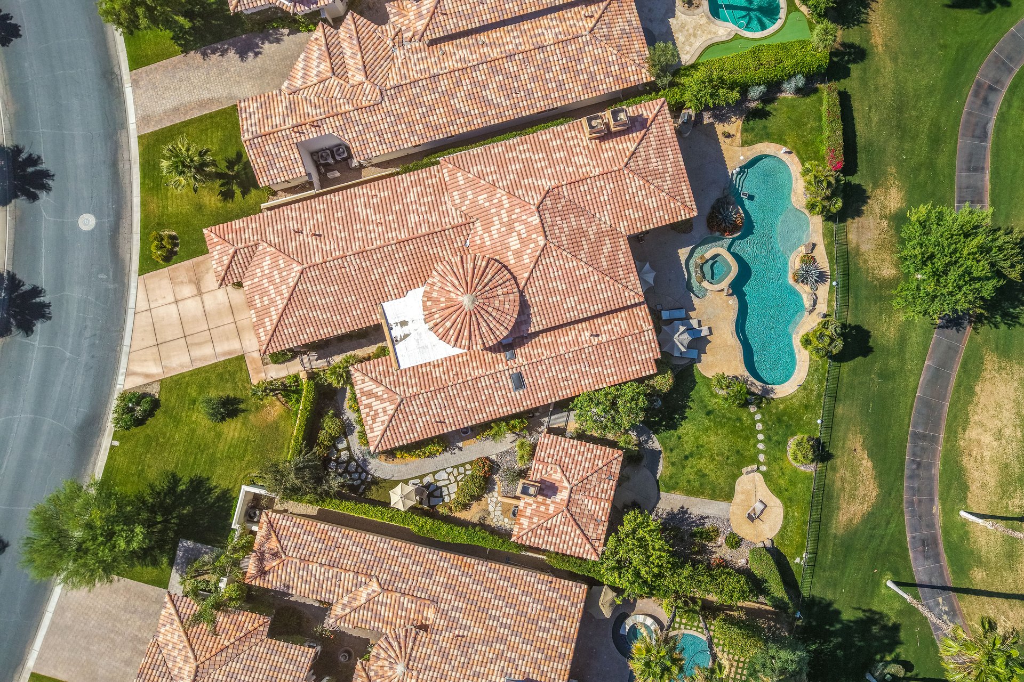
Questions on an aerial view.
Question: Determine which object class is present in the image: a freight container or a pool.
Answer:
pool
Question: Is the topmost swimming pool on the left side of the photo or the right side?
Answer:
right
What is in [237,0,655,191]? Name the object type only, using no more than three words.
house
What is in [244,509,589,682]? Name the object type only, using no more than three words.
house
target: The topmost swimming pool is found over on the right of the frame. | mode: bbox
[690,0,788,64]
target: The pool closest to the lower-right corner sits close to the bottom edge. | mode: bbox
[654,628,716,682]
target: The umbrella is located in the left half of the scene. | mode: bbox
[391,482,416,511]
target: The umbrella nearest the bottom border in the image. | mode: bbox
[585,587,620,620]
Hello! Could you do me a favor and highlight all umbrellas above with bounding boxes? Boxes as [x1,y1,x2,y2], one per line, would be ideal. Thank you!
[635,259,657,291]
[657,321,694,357]
[391,482,416,511]
[585,587,620,620]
